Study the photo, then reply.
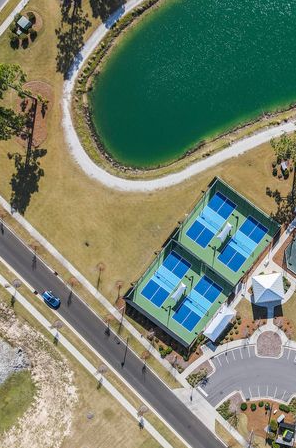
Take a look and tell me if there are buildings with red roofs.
No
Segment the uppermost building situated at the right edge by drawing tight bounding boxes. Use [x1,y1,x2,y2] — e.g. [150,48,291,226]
[252,272,284,302]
